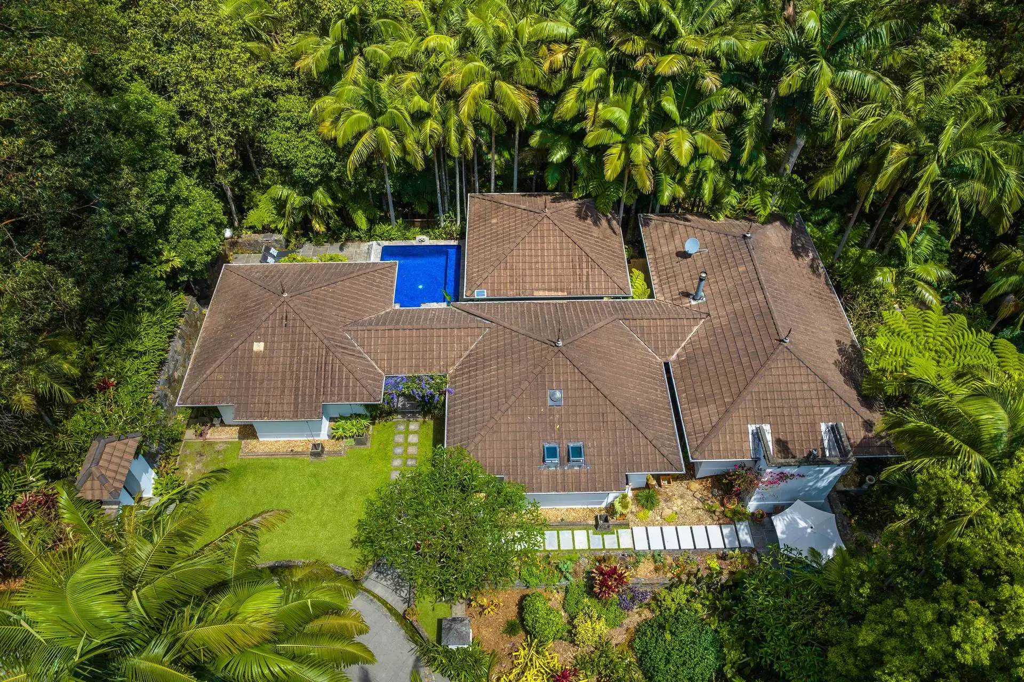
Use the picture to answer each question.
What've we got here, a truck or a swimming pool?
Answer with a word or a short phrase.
swimming pool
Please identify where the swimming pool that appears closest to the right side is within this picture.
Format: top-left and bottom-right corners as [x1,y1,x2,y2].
[370,230,468,306]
